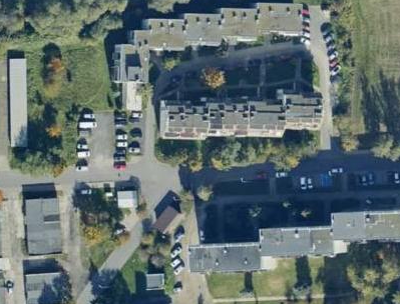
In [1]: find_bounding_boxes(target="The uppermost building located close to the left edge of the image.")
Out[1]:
[10,59,30,147]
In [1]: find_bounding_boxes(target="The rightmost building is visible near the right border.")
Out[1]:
[331,212,400,243]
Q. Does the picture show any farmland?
No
